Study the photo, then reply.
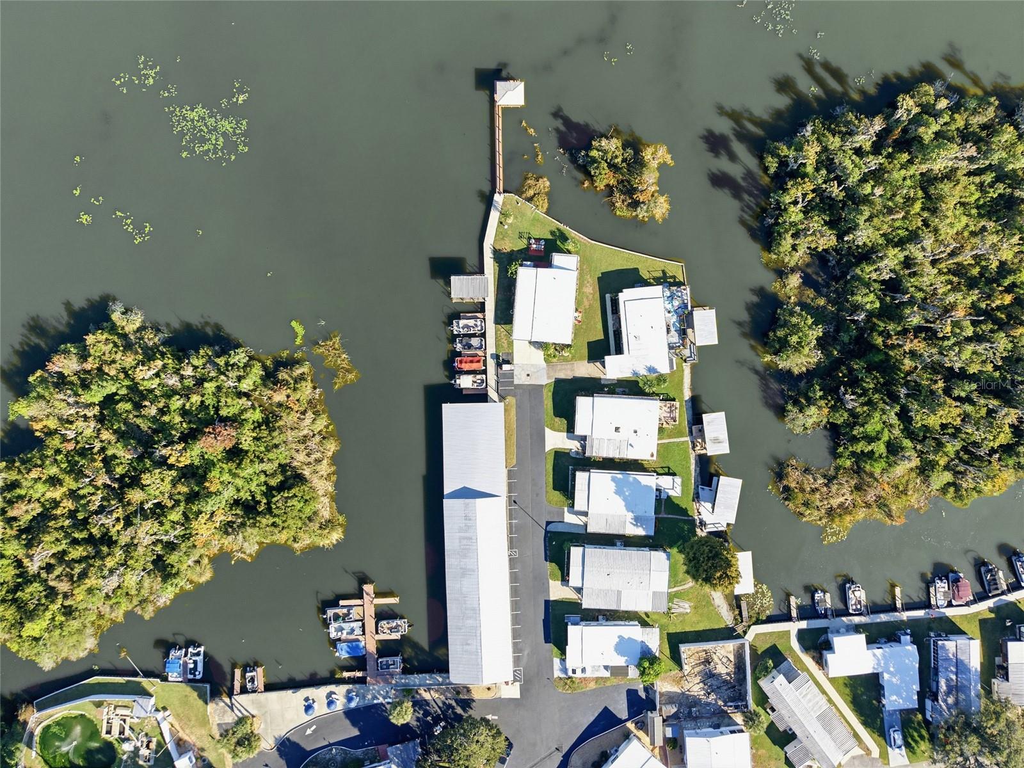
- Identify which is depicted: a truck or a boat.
boat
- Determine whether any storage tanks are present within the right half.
No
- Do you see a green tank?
No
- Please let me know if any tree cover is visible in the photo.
Yes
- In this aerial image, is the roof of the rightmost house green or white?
white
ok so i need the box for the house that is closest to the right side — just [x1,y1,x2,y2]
[983,620,1024,706]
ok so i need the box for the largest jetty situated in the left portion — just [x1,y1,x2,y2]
[361,583,379,683]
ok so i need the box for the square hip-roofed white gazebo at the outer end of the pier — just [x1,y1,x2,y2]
[495,76,524,108]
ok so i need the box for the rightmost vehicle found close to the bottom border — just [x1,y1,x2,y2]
[890,727,905,752]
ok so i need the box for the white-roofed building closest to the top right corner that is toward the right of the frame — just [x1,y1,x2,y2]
[687,307,718,357]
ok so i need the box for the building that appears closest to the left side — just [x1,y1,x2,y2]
[133,692,158,716]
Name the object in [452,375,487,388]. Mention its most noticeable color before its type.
white boat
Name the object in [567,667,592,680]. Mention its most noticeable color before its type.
white vehicle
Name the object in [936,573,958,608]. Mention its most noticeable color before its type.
white boat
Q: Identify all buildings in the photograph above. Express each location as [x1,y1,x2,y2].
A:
[598,730,664,768]
[693,412,730,456]
[451,276,488,302]
[687,307,718,357]
[575,394,659,459]
[604,286,675,378]
[133,692,158,716]
[983,620,1024,706]
[664,722,678,737]
[677,635,754,712]
[822,625,920,710]
[174,744,202,768]
[925,632,980,726]
[574,470,683,536]
[699,475,742,531]
[442,402,513,684]
[564,614,659,677]
[753,658,859,768]
[569,544,669,612]
[646,707,662,746]
[683,722,750,768]
[513,254,578,344]
[730,548,754,595]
